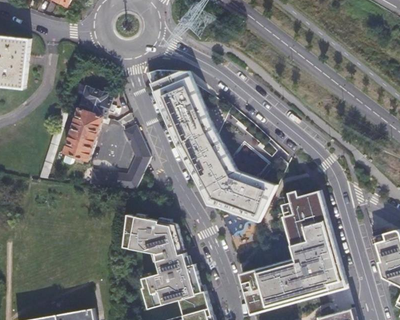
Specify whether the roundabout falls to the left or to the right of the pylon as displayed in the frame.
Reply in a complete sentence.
The roundabout appears to the left of the pylon in this view.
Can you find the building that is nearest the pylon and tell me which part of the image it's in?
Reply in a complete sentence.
The building that is nearest the pylon sits in the center section of the image.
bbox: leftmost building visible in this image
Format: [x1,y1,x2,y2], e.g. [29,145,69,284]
[0,36,38,90]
